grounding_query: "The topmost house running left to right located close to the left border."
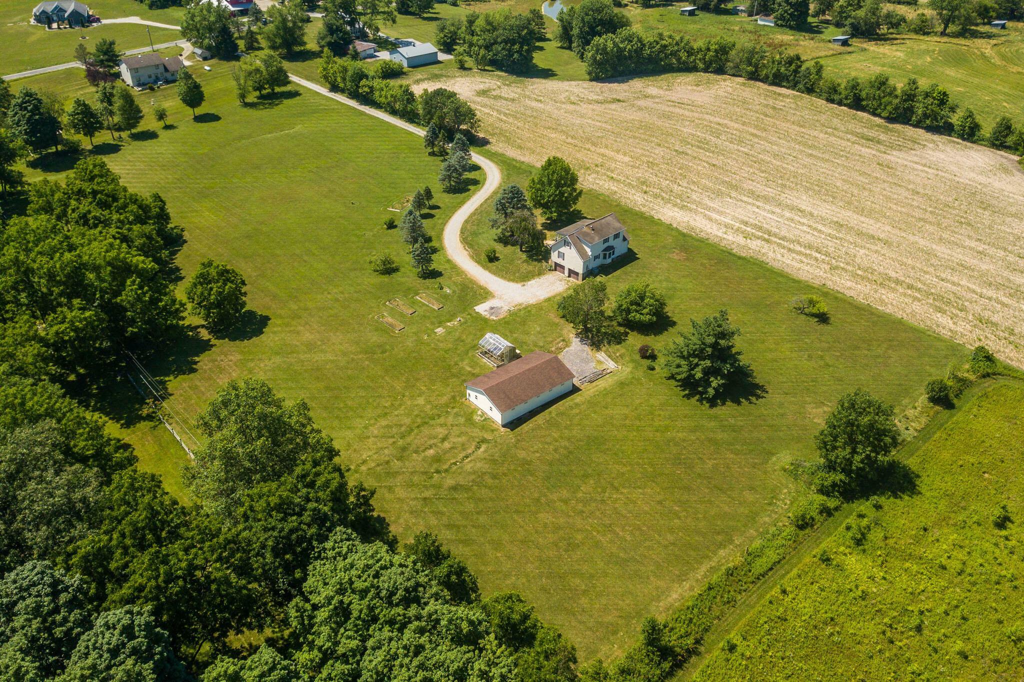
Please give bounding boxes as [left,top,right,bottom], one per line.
[29,4,94,28]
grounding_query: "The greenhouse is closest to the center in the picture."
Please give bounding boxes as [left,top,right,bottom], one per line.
[477,333,519,367]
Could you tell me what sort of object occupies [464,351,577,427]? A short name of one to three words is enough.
barn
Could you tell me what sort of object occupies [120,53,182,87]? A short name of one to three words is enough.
house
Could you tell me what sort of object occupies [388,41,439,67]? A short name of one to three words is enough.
barn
